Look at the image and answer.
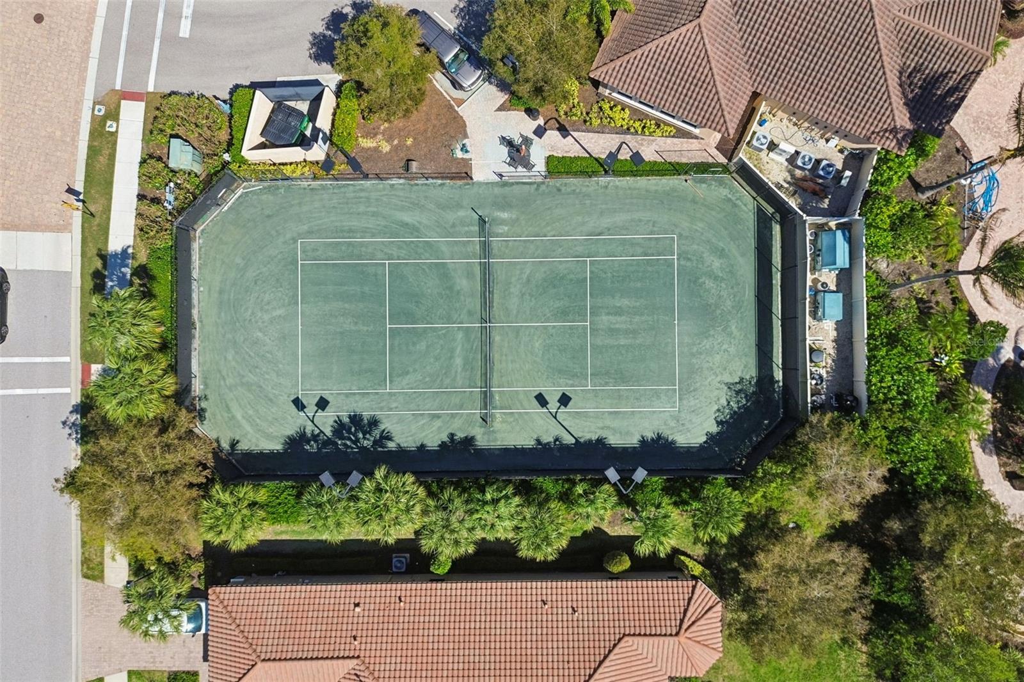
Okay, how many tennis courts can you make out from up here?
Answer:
1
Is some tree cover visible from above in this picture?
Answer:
Yes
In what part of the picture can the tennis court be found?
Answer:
center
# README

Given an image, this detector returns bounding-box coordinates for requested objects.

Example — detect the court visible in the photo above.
[190,169,788,476]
